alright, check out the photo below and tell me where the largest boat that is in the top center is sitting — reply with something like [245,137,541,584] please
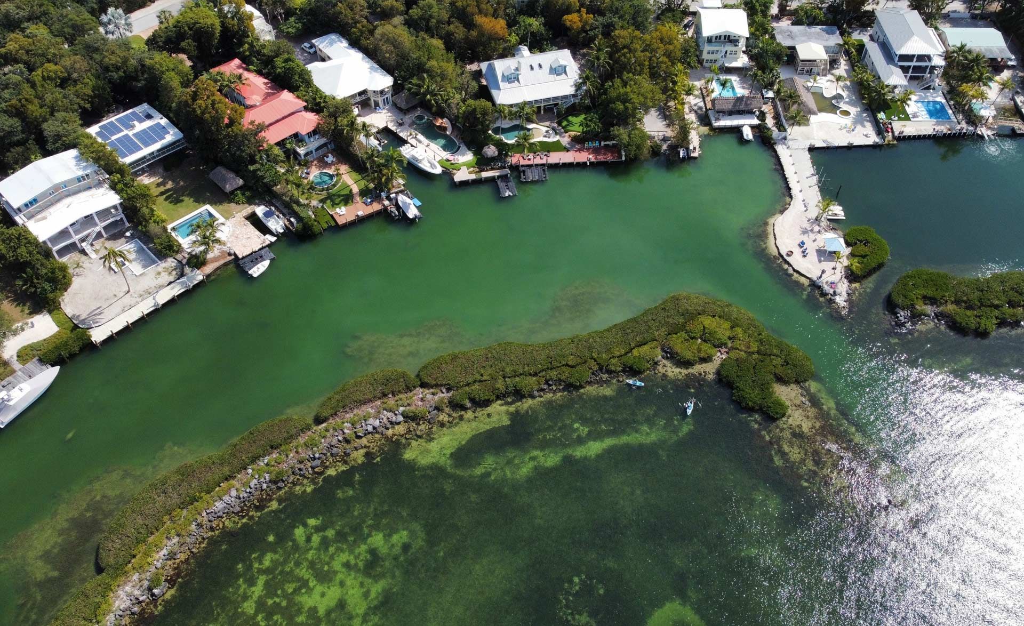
[395,144,442,176]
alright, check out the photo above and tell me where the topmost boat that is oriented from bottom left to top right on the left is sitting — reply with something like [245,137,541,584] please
[249,259,270,277]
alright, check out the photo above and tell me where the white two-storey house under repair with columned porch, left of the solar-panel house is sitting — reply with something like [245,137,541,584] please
[0,146,130,262]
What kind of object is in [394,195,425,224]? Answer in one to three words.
boat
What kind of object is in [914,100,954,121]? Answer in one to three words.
swimming pool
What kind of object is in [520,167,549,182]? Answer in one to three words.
pier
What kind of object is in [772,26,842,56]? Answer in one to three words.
house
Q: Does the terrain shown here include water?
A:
Yes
